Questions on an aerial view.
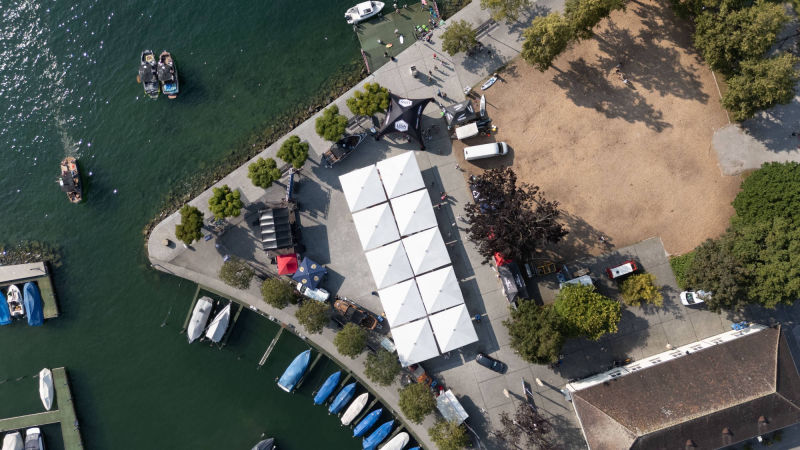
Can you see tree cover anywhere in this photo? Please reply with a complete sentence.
Yes, some tree cover is visible.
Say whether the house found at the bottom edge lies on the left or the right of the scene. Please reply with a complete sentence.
The house found at the bottom edge is on the right side of the image.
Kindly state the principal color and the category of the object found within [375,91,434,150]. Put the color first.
black tent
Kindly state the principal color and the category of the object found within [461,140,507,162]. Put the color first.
white vehicle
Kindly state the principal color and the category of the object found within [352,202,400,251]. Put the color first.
white tent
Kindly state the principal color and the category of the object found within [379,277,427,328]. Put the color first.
white tent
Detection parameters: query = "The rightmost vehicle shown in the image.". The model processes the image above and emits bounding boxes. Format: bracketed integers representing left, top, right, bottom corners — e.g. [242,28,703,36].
[677,289,712,306]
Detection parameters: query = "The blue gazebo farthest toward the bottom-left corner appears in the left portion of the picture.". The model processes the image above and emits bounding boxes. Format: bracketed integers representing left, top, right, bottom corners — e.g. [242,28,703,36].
[293,255,329,289]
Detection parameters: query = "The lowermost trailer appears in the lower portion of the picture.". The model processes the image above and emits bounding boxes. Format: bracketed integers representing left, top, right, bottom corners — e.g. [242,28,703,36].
[437,384,469,423]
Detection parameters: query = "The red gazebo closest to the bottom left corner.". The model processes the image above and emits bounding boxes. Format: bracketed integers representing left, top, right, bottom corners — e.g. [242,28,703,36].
[277,254,298,275]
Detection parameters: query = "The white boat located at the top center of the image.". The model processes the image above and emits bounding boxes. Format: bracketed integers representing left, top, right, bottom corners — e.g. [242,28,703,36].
[343,0,384,24]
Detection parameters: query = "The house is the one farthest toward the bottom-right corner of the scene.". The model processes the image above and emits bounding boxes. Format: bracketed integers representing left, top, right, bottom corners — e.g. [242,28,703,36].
[566,323,800,450]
